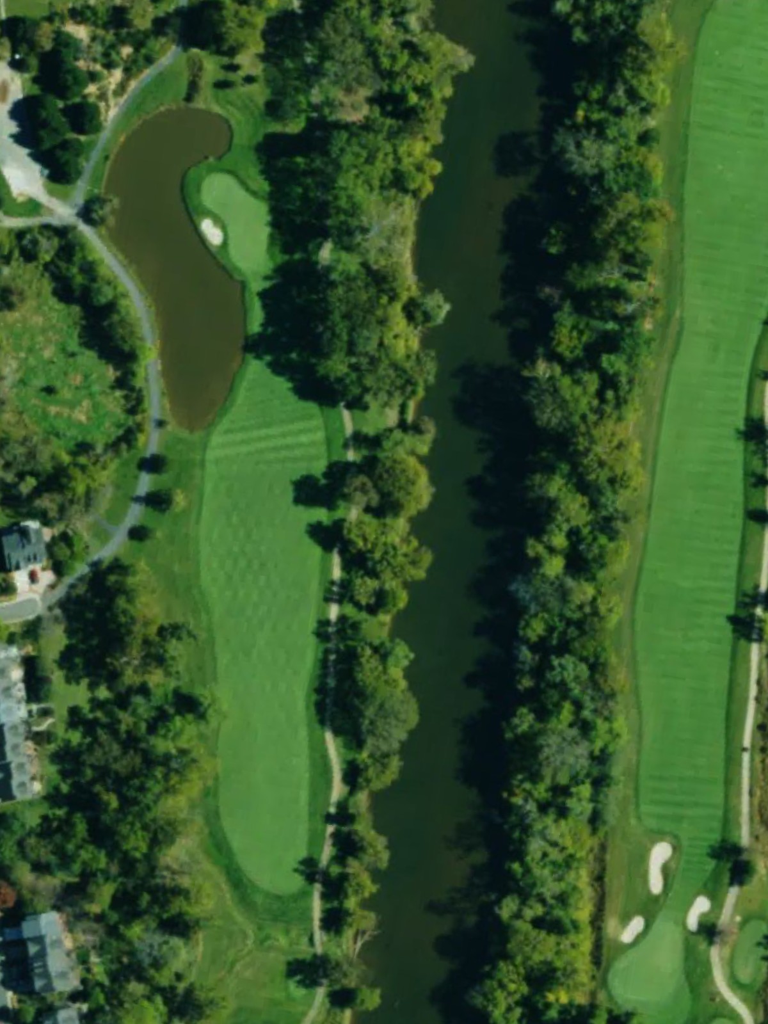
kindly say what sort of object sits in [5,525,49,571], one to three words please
house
